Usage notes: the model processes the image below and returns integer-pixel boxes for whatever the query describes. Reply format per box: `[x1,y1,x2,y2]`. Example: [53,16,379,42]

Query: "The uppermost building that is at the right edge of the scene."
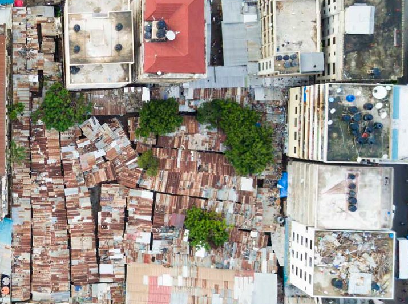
[318,0,404,85]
